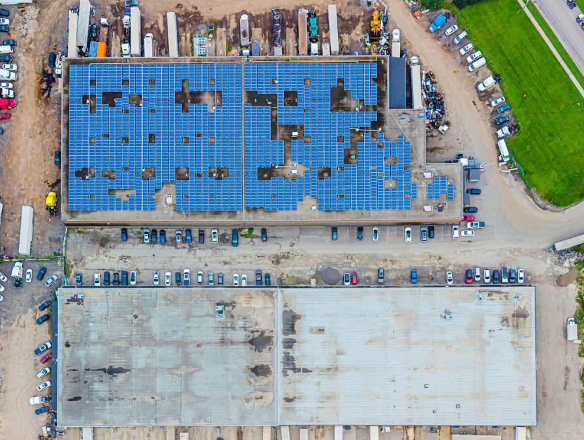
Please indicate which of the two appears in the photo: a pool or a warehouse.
warehouse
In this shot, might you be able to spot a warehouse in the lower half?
Yes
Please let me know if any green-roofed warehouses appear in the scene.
No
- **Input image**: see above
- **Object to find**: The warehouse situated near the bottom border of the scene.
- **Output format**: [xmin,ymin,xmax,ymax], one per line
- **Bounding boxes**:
[52,283,537,428]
